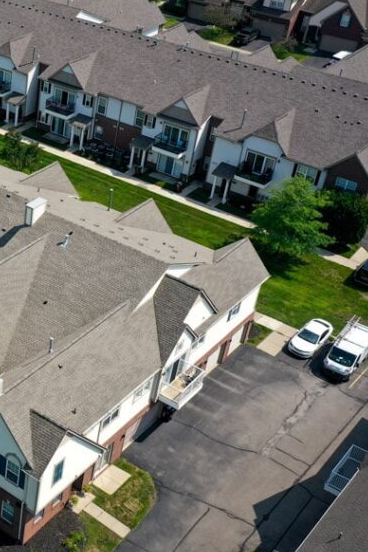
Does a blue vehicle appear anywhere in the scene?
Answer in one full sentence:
No, no blue vehicle is visible in the view.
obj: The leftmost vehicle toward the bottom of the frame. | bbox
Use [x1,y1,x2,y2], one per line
[290,316,331,352]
